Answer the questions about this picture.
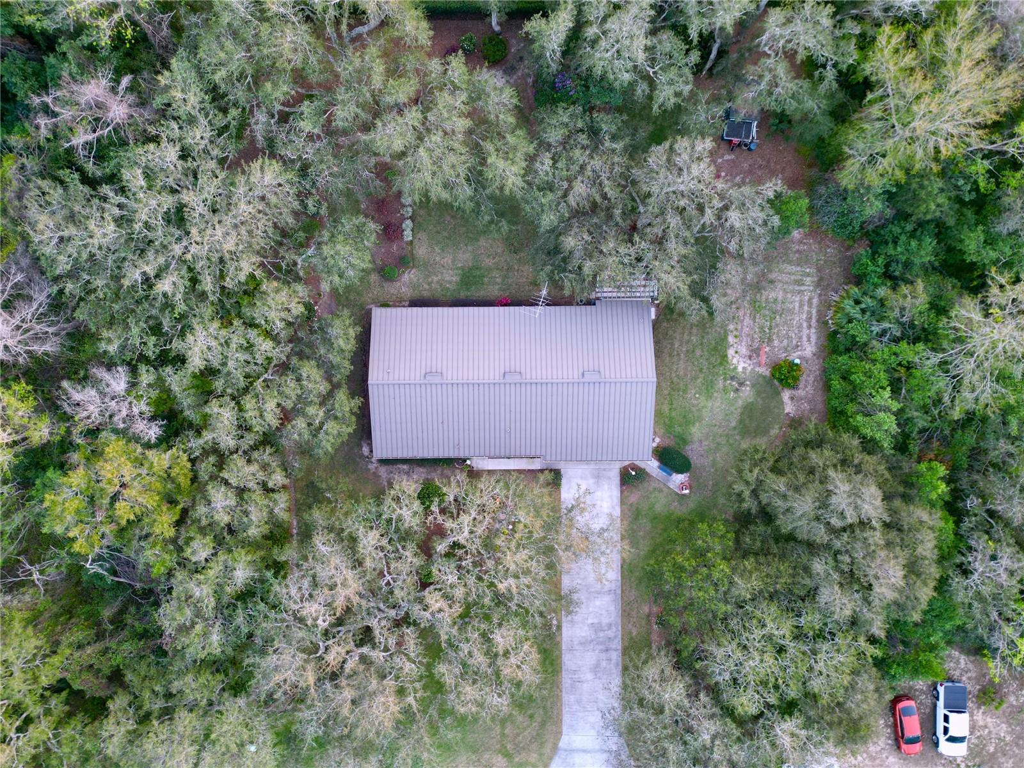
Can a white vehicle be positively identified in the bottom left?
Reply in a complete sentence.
No, there's no white vehicle to be seen in the bottom left.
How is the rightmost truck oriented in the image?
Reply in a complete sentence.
Seen from above, the rightmost truck lies vertically.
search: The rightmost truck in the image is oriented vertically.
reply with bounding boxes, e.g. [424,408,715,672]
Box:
[931,676,972,756]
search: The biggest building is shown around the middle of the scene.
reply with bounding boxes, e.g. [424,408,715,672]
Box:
[367,299,657,464]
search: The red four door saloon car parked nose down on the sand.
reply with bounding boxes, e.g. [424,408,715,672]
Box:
[889,694,925,754]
